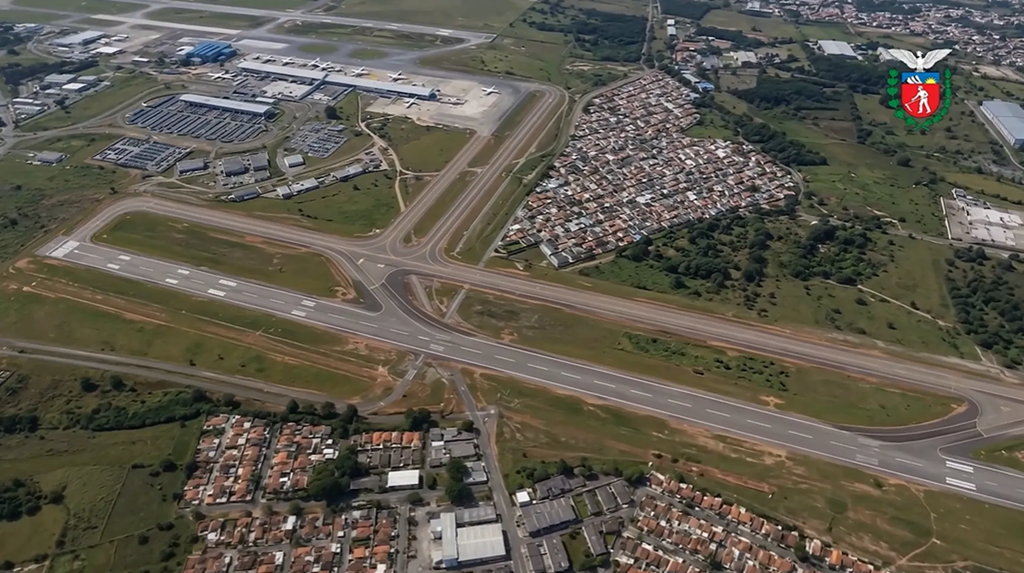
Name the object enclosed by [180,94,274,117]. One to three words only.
building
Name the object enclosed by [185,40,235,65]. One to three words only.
hangar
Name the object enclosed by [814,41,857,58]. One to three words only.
building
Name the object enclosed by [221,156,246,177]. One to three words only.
shed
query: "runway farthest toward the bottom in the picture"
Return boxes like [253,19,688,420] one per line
[45,238,1024,511]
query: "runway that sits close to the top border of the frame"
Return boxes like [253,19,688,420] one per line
[124,0,495,40]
